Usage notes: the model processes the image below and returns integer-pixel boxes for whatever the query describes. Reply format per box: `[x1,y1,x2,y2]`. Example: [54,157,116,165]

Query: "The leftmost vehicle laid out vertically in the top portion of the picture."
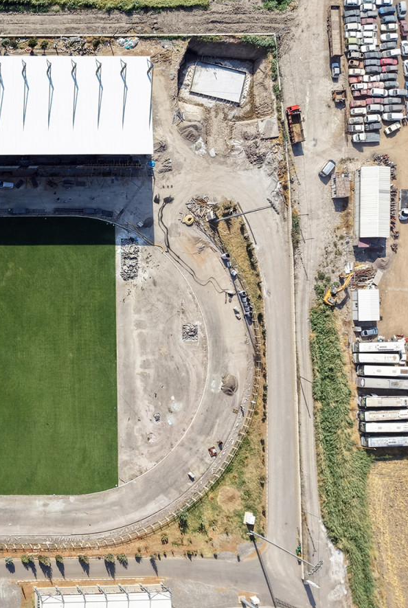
[285,105,305,144]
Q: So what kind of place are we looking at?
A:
sports ground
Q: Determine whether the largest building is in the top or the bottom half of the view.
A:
top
